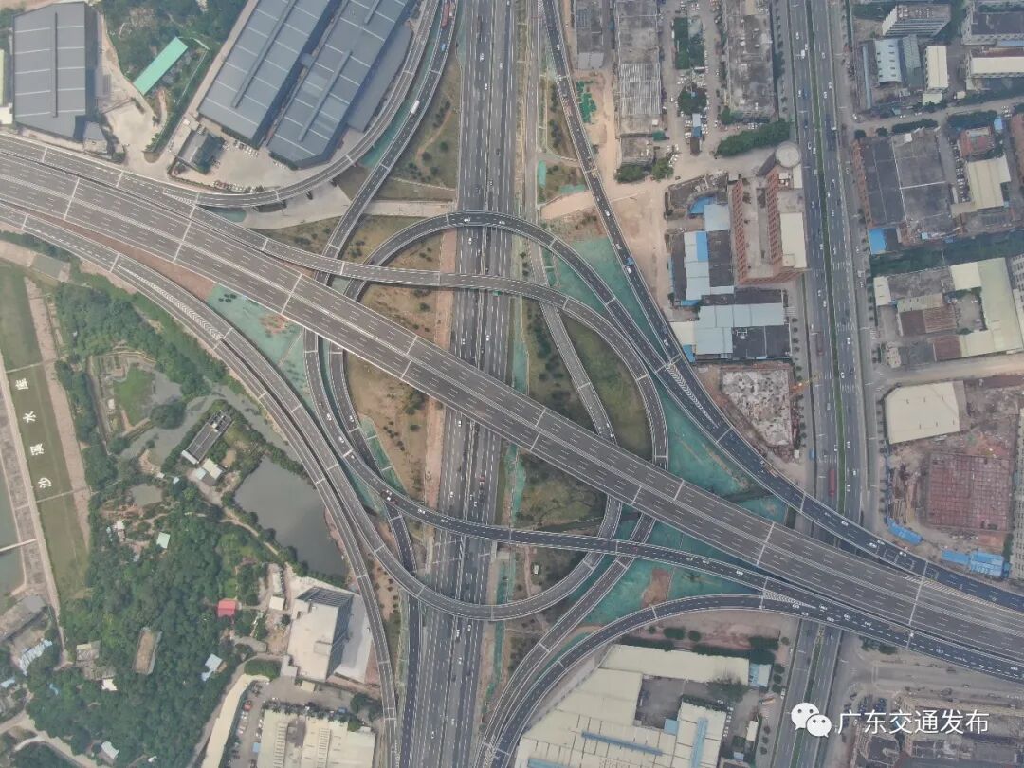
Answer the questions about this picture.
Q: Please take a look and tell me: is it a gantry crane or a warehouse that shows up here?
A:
warehouse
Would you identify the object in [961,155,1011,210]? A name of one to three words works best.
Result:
building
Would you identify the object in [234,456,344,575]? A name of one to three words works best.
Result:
pond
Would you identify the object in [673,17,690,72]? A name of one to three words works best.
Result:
shed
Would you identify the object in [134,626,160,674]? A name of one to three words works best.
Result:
house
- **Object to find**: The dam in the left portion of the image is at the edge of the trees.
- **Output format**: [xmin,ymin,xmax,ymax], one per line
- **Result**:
[0,237,84,633]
